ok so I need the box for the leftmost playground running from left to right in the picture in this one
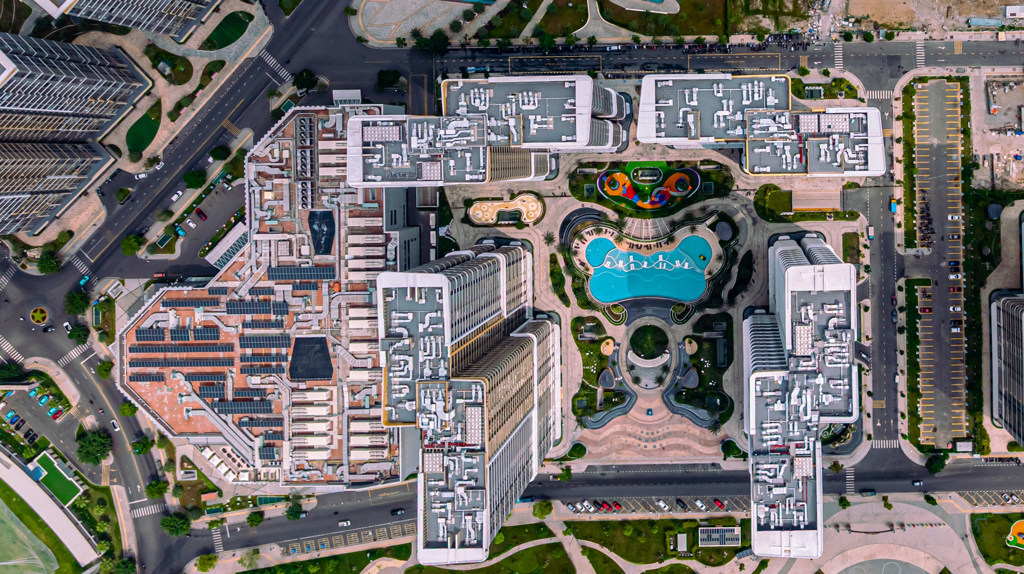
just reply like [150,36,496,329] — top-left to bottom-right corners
[468,194,543,223]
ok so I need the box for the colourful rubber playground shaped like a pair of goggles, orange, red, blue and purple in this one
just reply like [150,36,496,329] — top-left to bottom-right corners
[596,160,700,212]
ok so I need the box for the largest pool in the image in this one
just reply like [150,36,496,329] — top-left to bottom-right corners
[564,217,730,311]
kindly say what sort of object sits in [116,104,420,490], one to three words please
building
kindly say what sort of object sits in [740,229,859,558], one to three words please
building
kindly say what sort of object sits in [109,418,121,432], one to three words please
vehicle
